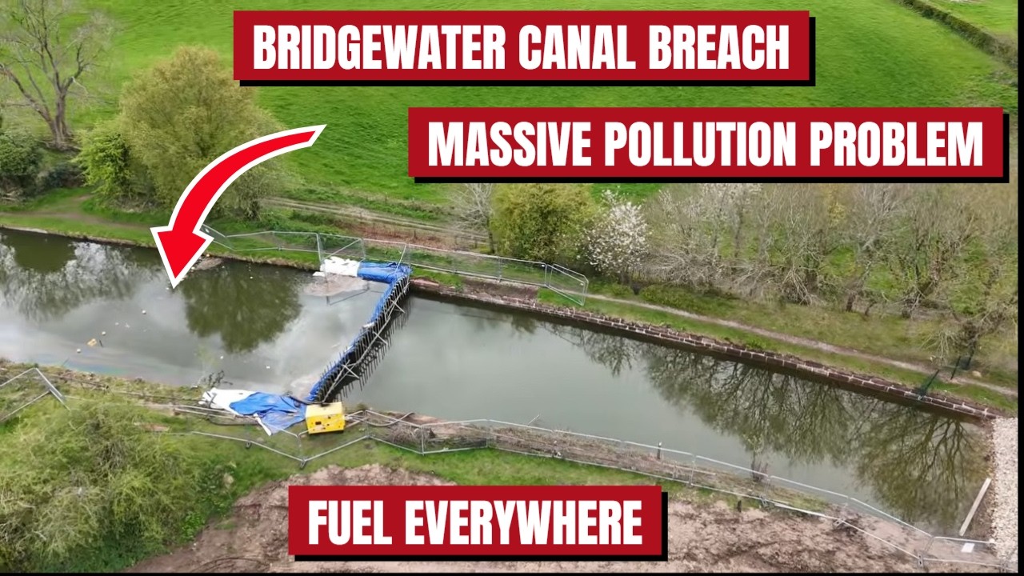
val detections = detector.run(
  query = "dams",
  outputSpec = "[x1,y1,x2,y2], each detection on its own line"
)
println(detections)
[301,272,414,406]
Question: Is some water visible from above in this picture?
Yes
